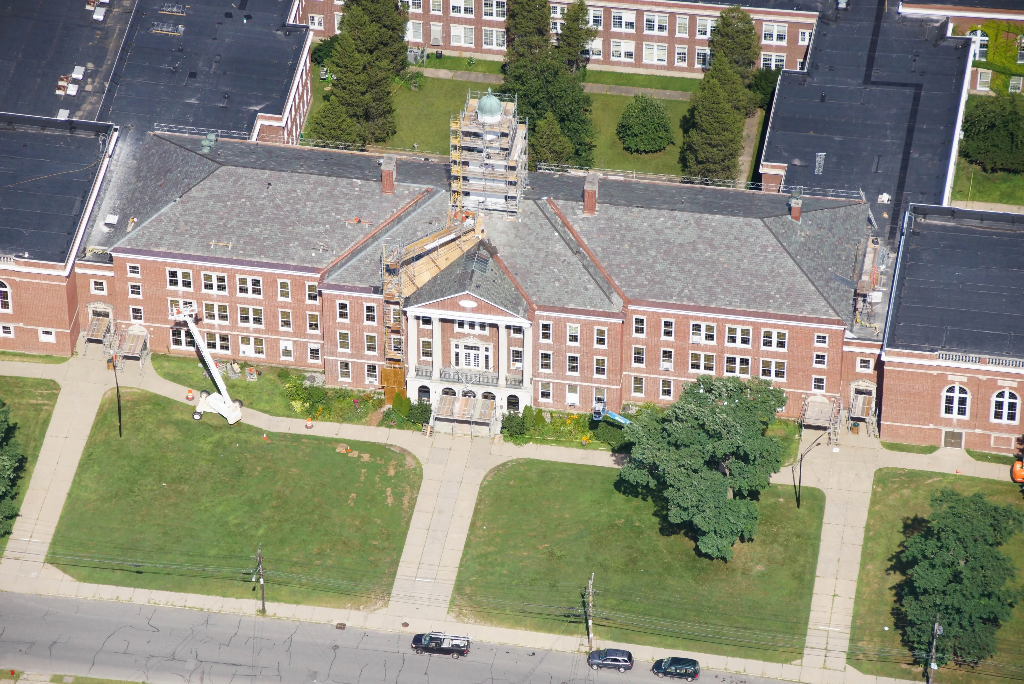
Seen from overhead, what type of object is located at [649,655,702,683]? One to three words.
vehicle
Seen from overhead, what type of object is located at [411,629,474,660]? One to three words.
truck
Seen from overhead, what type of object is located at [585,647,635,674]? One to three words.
car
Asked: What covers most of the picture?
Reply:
buildings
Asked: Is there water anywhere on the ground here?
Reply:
No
